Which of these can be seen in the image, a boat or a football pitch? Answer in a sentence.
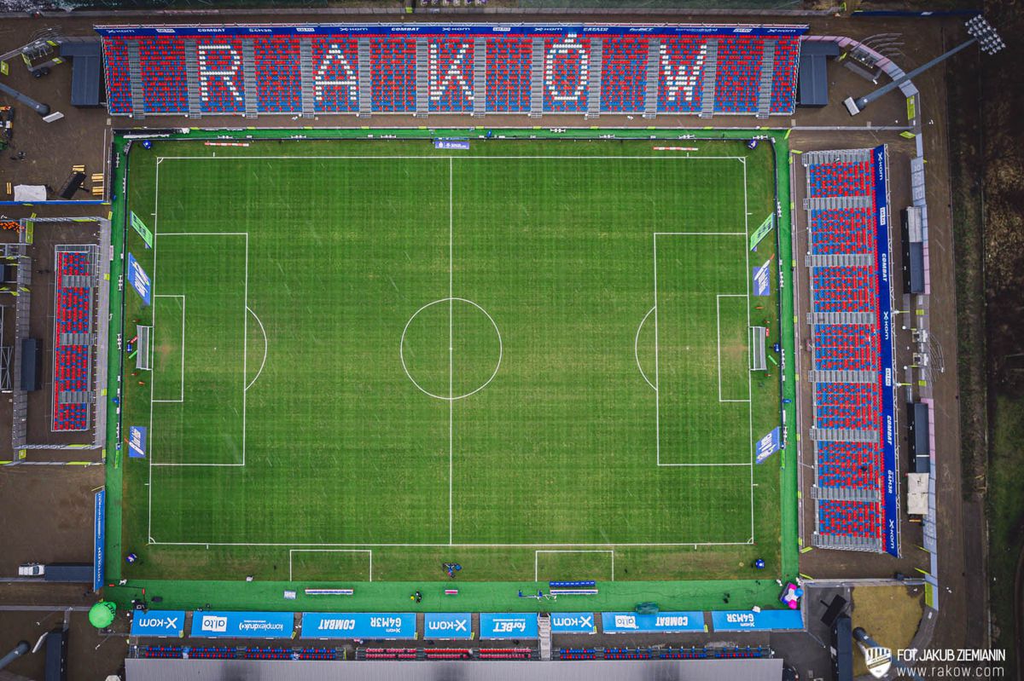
Visible in the photo is a football pitch.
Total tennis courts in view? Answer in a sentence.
The count of tennis courts is 0.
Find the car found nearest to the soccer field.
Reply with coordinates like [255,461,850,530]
[18,563,47,577]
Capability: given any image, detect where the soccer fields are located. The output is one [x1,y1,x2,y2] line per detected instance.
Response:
[121,140,782,583]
